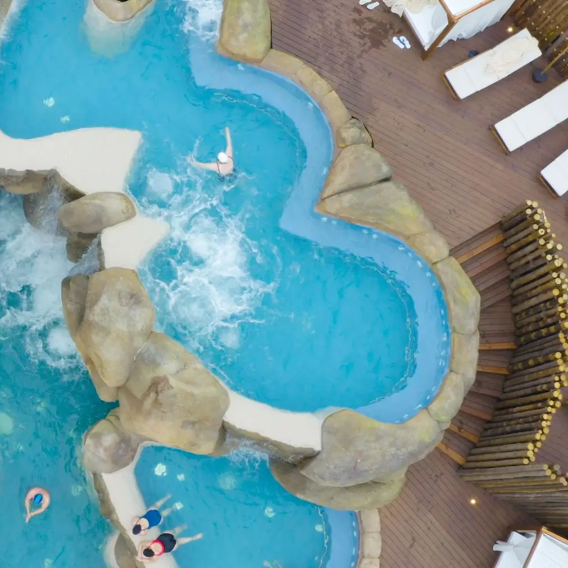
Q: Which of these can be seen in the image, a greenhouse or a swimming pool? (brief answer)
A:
swimming pool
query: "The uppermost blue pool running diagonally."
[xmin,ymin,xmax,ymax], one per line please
[0,0,446,423]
